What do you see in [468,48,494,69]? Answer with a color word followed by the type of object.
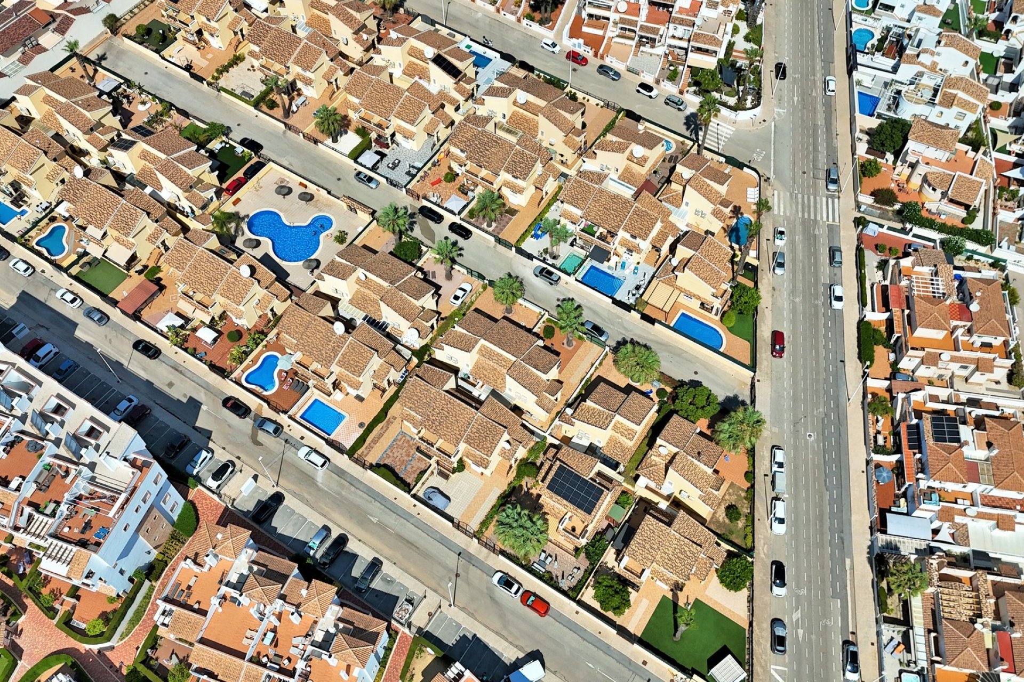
blue swimming pool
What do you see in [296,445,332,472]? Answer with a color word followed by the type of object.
white car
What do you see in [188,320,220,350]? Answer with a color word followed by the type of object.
white gazebo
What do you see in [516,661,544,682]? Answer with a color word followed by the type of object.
white vehicle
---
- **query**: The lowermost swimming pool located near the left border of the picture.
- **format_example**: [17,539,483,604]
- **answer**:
[33,223,69,259]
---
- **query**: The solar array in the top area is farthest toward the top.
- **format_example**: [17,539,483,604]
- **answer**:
[431,53,463,79]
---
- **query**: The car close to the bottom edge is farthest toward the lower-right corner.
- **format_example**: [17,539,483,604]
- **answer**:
[841,644,861,682]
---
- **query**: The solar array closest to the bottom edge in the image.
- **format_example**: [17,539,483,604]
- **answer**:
[546,464,604,515]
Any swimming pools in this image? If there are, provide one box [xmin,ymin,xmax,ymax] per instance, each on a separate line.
[249,352,279,394]
[33,223,69,259]
[663,137,675,153]
[672,314,725,349]
[853,0,872,9]
[242,208,336,265]
[296,396,349,439]
[858,91,882,117]
[558,249,584,272]
[0,198,31,227]
[579,262,628,298]
[853,27,876,53]
[468,48,494,69]
[726,214,756,248]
